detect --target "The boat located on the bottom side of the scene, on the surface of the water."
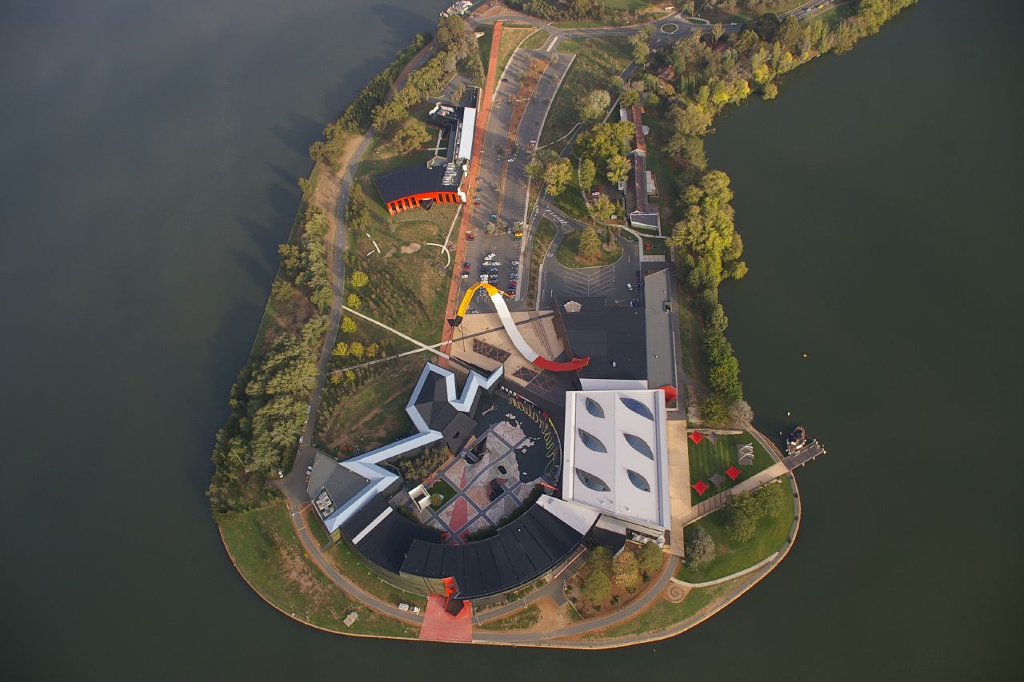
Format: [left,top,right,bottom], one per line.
[788,428,804,452]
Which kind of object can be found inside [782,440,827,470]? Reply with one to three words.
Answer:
pier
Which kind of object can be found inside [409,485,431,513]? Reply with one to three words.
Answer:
building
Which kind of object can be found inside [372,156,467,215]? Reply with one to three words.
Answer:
building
